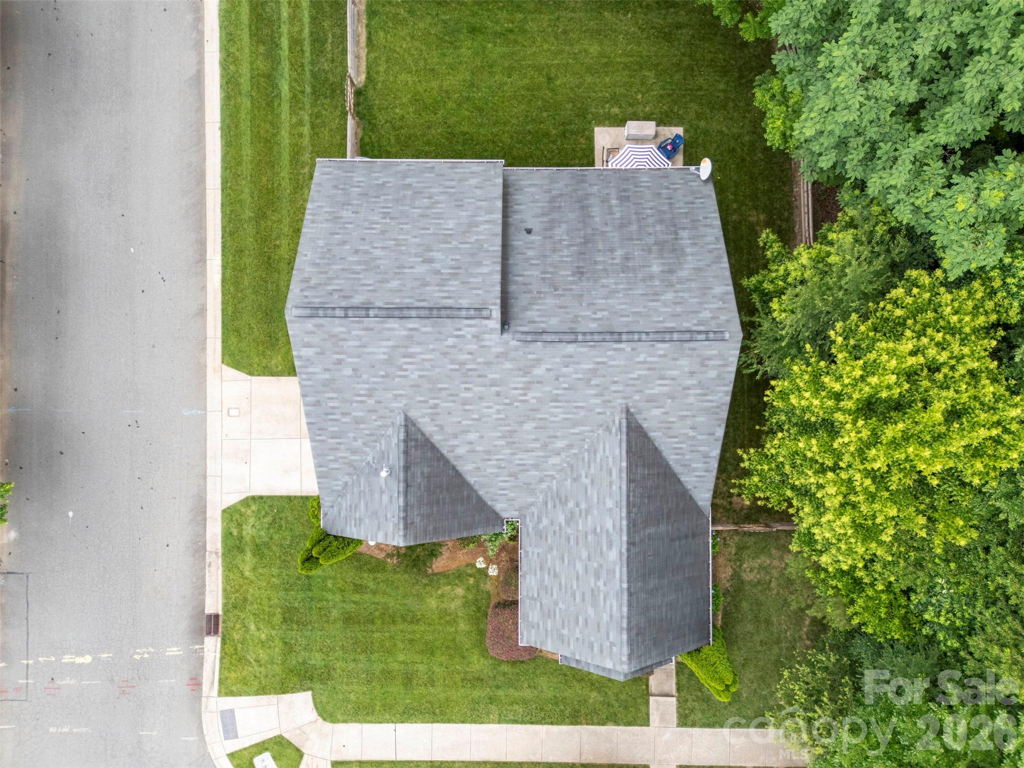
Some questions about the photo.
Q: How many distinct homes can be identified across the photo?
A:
1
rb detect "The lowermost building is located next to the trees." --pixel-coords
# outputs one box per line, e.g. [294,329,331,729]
[287,161,742,681]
